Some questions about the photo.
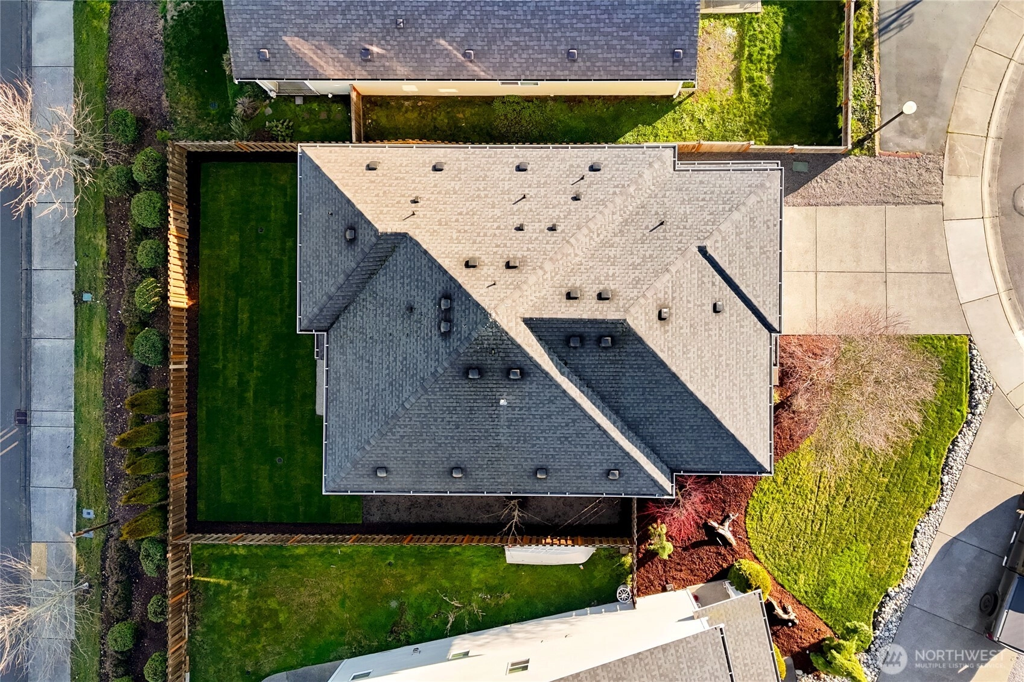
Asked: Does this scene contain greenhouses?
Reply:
No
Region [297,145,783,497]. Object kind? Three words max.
house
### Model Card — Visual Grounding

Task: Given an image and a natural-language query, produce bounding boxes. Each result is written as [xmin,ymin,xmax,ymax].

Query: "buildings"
[219,0,703,103]
[262,580,794,682]
[297,145,783,497]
